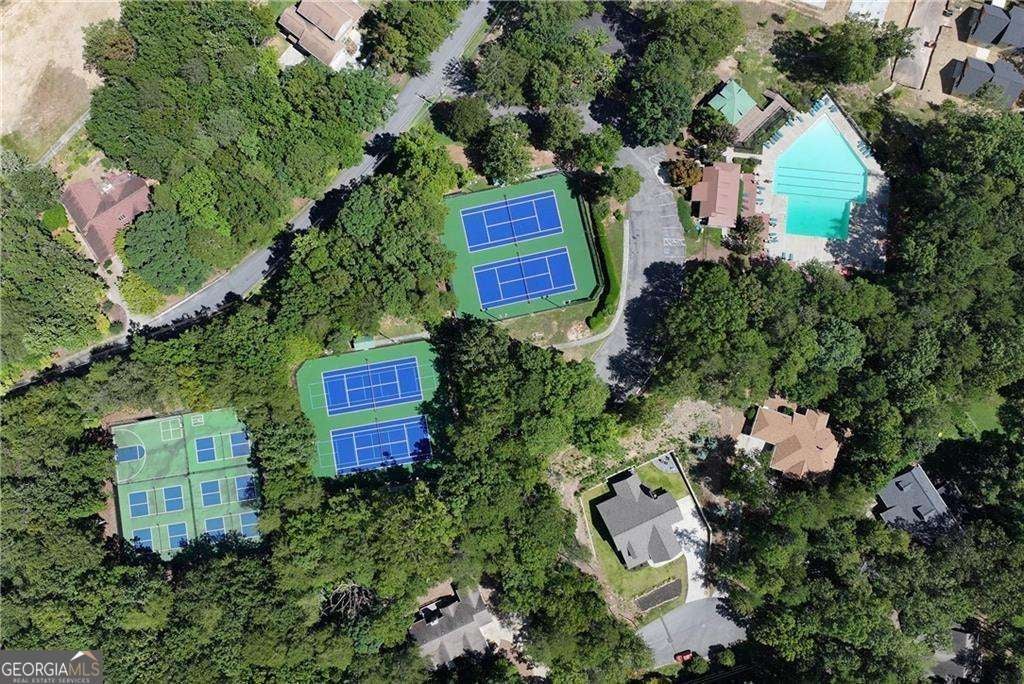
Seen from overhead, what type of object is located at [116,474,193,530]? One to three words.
sports court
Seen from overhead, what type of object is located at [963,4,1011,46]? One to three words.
house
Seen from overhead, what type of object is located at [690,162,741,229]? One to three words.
building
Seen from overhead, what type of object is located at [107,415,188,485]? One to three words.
basketball court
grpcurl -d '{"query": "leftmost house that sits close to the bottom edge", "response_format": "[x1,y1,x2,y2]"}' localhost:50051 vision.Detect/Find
[411,580,493,669]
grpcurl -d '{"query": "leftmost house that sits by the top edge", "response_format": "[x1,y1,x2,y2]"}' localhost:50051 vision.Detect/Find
[278,0,365,66]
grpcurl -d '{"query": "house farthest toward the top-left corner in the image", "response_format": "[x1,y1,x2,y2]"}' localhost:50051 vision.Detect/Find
[61,173,153,263]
